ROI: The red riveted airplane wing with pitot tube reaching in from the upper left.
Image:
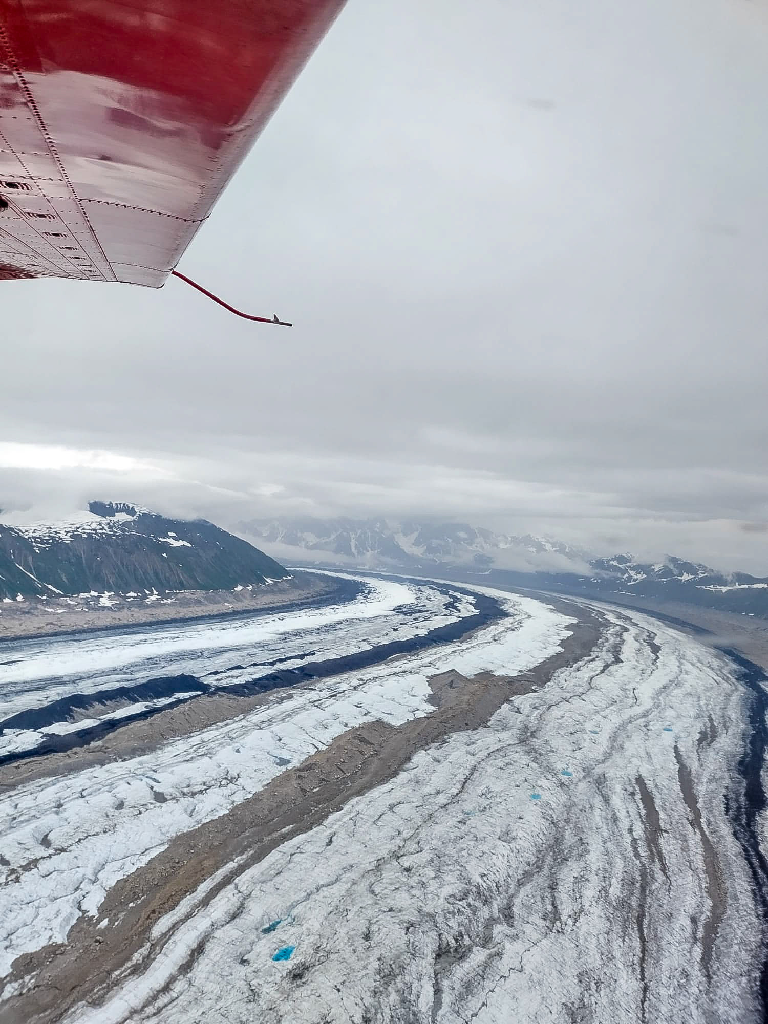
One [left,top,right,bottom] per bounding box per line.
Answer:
[0,0,349,326]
